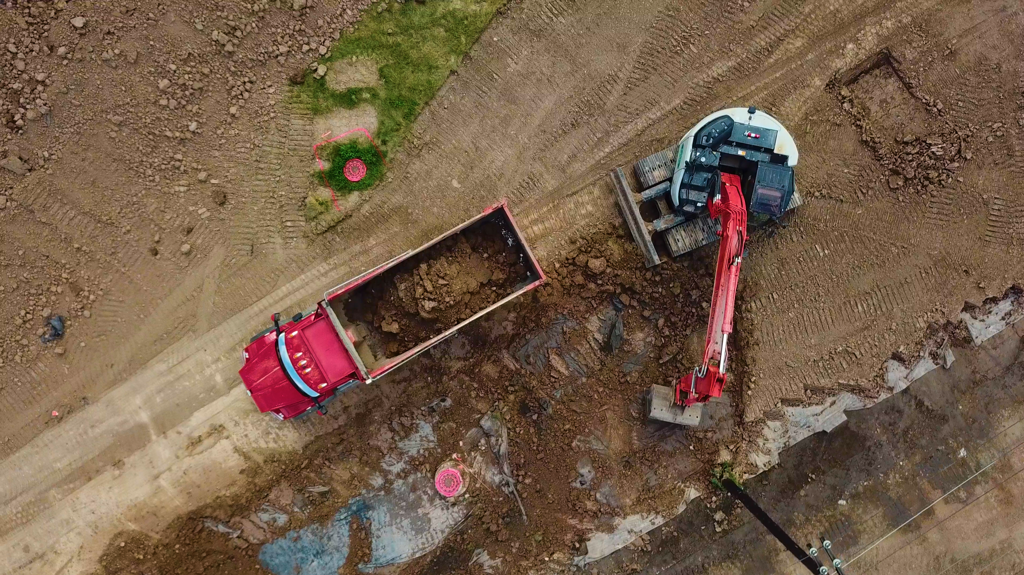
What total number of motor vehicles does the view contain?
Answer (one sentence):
The photo contains 2 motor vehicles.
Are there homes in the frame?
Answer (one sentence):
No, no home is visible in the view.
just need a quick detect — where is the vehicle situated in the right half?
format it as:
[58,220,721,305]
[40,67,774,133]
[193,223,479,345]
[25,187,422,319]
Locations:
[609,106,808,426]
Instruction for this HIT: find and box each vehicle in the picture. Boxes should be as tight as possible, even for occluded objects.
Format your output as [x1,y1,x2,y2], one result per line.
[609,106,808,426]
[239,197,552,425]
